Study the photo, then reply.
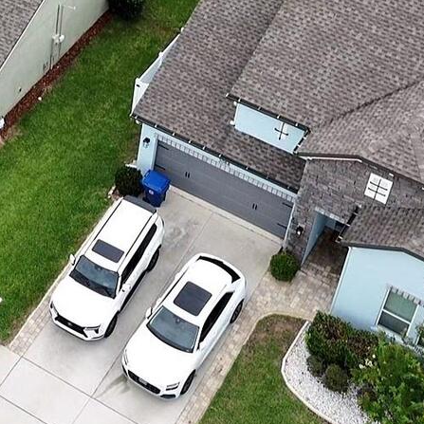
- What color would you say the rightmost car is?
white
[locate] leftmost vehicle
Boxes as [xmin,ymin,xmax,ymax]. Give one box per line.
[43,199,167,345]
